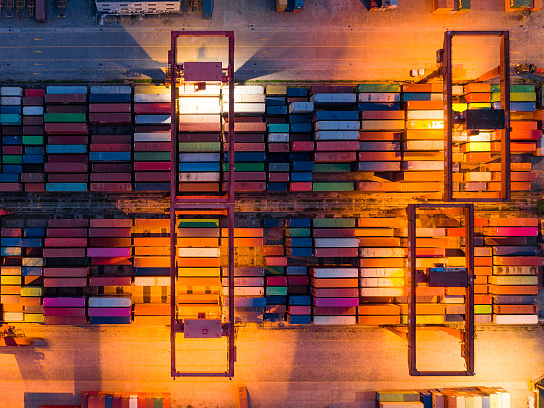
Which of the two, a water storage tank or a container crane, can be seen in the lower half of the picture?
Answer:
container crane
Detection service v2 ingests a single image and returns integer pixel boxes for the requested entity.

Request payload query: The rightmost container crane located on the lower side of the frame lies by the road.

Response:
[374,204,476,376]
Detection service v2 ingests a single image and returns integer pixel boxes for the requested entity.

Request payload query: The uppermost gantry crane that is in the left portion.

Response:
[160,31,242,202]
